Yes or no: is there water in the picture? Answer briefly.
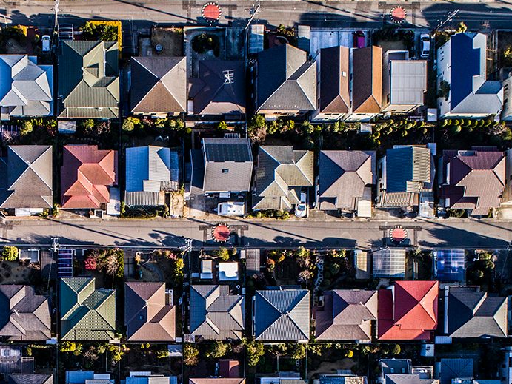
No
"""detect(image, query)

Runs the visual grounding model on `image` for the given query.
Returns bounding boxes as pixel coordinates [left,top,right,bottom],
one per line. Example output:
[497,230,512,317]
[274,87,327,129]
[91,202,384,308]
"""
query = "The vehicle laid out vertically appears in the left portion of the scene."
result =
[40,29,53,55]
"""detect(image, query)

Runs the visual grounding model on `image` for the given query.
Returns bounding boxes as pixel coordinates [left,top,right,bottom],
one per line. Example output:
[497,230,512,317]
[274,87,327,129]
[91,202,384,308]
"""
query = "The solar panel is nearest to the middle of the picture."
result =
[207,141,249,159]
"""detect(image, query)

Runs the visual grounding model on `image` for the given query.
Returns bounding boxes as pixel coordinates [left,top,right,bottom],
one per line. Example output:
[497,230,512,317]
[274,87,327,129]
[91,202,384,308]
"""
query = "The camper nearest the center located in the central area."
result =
[216,199,249,215]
